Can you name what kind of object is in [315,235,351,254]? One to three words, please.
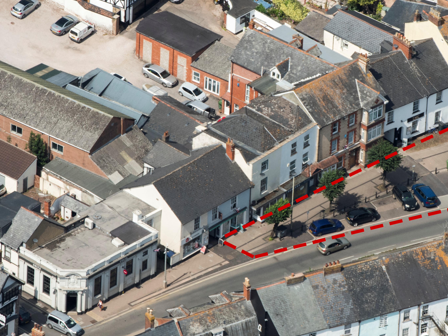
car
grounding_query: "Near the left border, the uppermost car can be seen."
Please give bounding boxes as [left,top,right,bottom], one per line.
[11,0,42,17]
